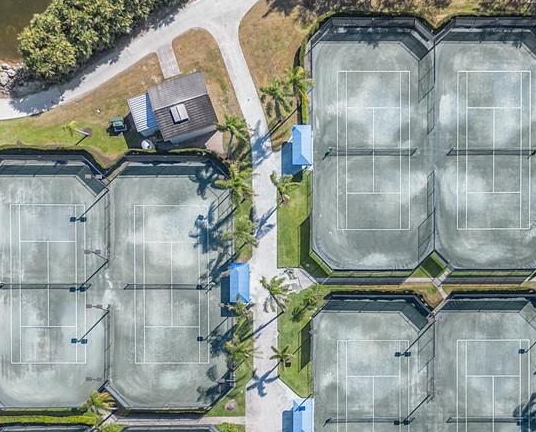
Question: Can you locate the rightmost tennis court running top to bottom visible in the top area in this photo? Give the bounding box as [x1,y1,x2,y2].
[434,27,536,269]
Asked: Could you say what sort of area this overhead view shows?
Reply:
sports ground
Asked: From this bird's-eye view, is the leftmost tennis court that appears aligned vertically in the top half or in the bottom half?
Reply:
bottom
